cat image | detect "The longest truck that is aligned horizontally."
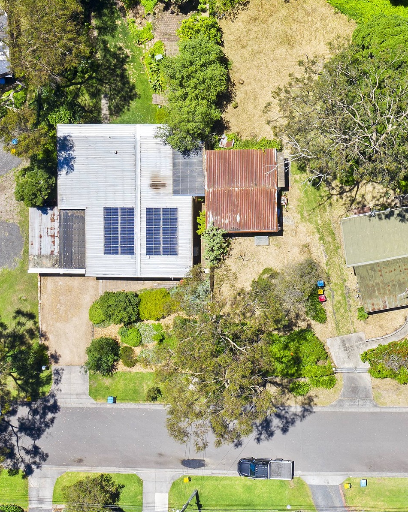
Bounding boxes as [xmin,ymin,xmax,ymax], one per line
[234,456,293,481]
